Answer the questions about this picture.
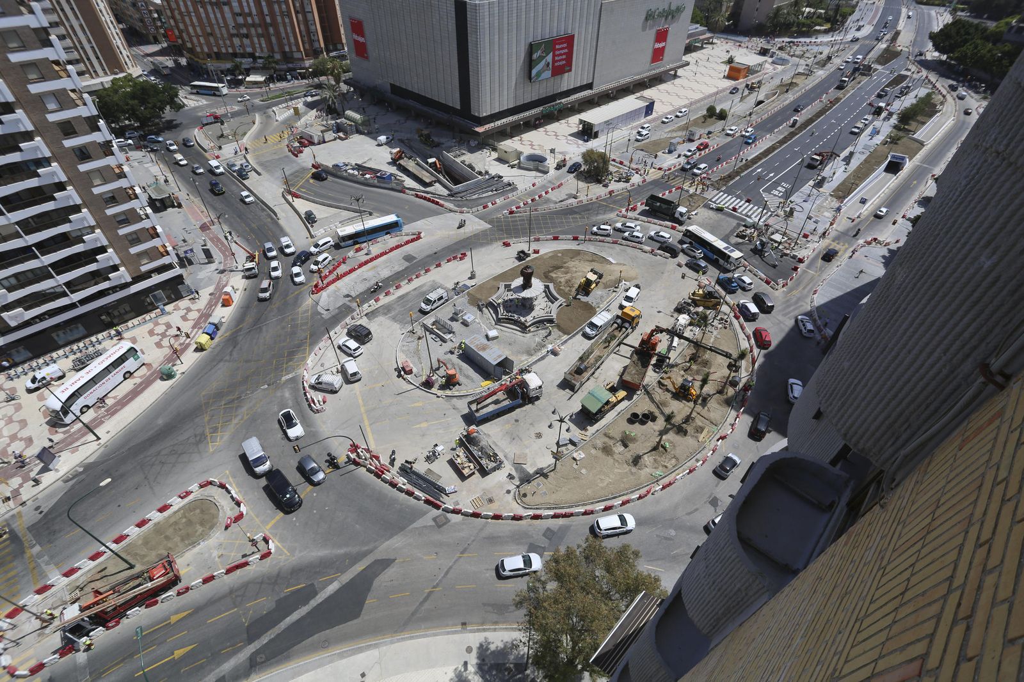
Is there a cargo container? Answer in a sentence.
Yes, you can see a cargo container in this photo.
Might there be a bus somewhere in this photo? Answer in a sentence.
Yes, the frame does contain a bus.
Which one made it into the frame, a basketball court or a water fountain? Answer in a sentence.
There is a water fountain in the scene.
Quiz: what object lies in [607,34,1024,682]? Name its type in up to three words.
building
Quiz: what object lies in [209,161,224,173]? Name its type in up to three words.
vehicle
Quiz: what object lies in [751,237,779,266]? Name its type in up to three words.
work vehicle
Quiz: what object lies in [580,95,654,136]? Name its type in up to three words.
shed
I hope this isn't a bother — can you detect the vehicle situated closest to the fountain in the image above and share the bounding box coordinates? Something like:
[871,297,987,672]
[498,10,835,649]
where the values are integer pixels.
[516,248,533,263]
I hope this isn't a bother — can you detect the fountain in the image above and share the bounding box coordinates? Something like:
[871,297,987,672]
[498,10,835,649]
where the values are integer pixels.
[479,264,559,332]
